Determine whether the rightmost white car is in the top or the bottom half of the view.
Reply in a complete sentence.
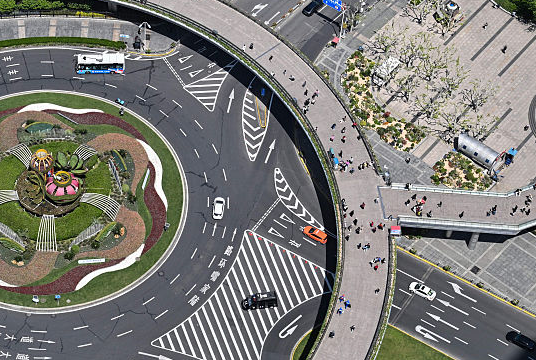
The rightmost white car is in the bottom half of the image.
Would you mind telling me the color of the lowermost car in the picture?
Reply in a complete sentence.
The color of the lowermost car is black.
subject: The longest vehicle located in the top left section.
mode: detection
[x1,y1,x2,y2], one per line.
[72,55,125,76]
